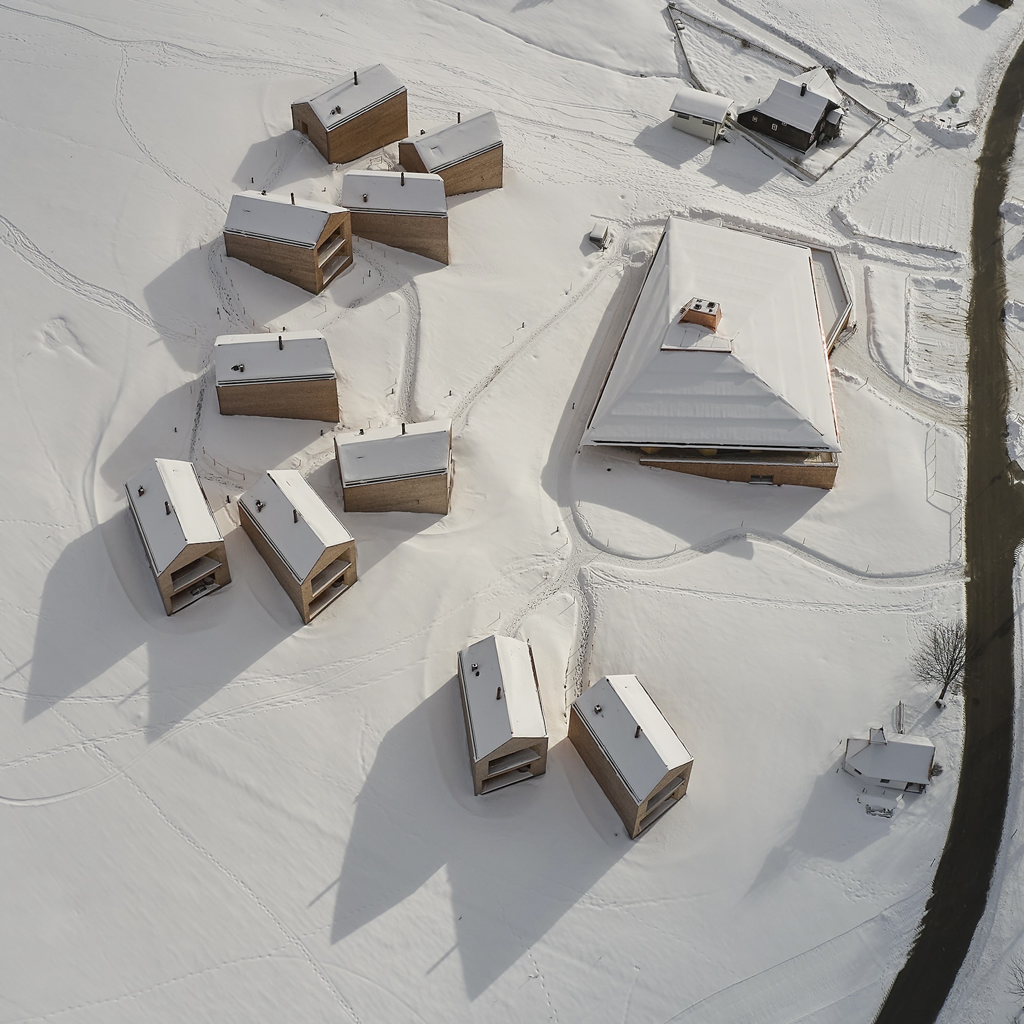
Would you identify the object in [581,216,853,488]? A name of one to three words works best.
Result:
building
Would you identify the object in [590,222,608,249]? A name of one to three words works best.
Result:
building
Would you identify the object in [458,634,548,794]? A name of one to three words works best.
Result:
house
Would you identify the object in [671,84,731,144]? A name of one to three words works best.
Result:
shed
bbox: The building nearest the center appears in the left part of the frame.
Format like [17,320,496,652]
[335,419,451,513]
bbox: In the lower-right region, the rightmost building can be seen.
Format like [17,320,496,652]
[841,724,935,796]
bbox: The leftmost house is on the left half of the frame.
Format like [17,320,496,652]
[123,457,231,614]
